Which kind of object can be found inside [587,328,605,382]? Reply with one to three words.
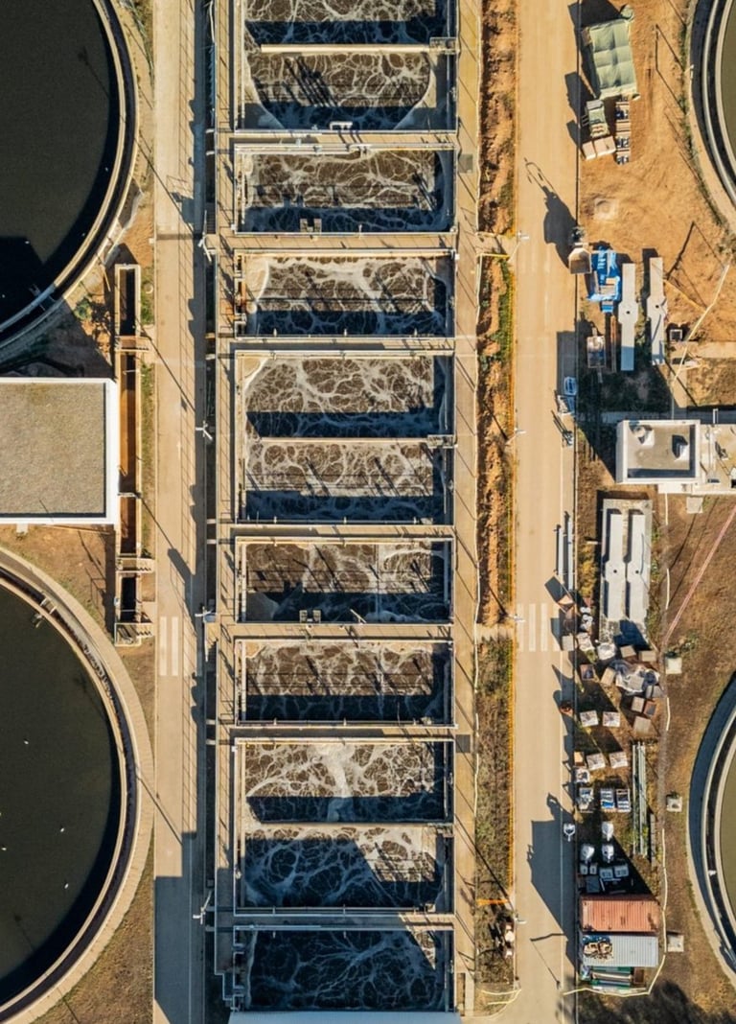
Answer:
trailer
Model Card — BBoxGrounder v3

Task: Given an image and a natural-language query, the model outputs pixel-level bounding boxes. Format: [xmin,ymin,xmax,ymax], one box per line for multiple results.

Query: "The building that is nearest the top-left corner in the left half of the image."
[0,374,116,534]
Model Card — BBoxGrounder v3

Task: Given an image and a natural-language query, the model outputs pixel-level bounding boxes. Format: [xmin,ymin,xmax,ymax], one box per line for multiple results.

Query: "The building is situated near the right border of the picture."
[617,420,701,493]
